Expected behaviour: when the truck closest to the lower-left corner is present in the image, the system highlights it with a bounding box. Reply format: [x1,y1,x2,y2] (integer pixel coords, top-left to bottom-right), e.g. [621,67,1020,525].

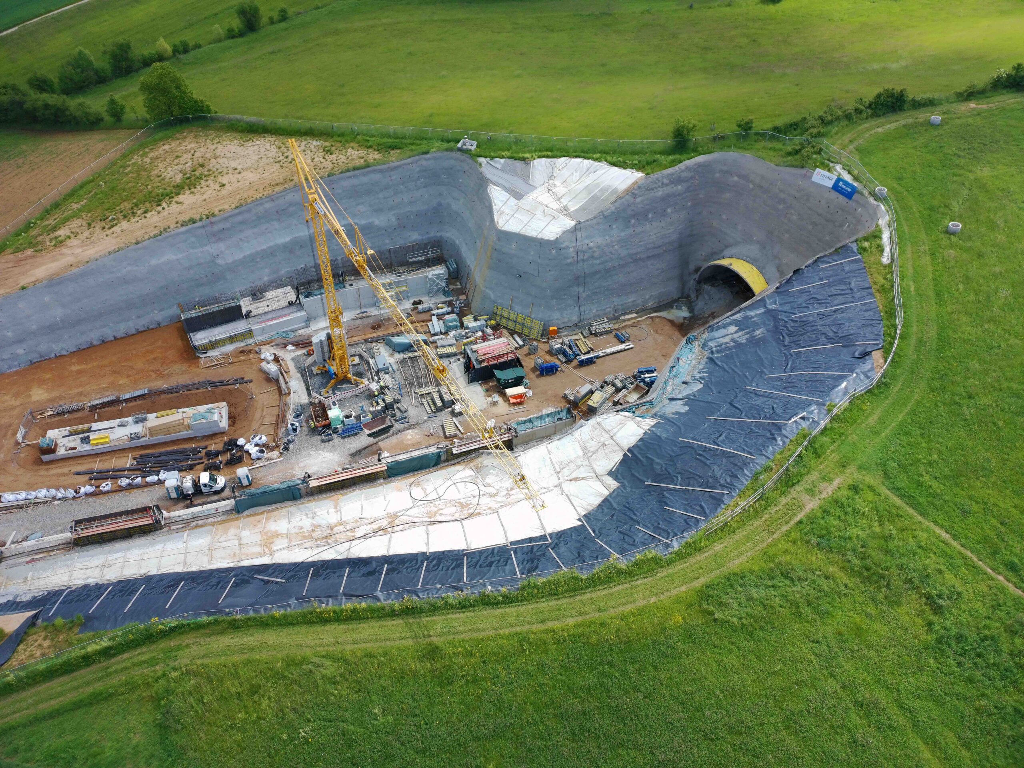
[178,468,229,495]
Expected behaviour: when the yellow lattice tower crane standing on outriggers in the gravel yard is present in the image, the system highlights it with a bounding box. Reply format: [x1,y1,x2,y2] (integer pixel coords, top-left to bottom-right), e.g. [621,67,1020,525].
[289,138,548,510]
